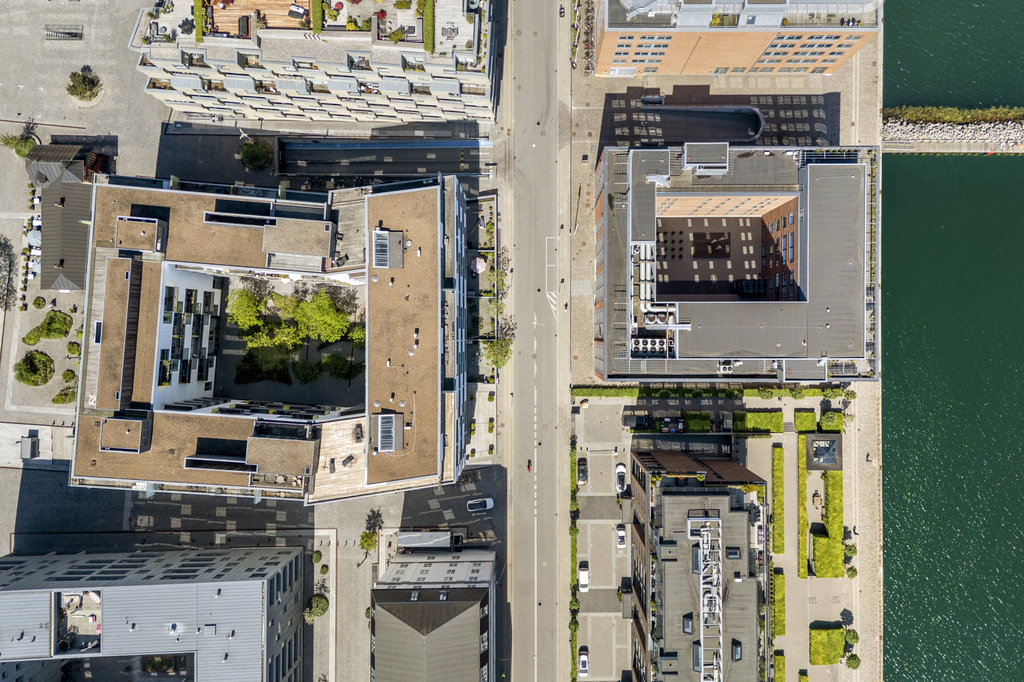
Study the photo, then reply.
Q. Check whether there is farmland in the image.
No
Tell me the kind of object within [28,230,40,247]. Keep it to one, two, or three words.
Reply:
umbrella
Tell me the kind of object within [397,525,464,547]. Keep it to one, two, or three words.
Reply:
truck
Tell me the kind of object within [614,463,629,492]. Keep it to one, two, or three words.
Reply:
car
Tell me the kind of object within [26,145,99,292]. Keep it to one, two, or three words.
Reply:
house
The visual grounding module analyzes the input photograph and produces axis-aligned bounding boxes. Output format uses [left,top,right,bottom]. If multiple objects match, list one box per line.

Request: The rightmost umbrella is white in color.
[471,257,486,273]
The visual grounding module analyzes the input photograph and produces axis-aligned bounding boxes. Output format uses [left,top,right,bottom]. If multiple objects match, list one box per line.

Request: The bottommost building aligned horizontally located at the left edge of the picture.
[0,547,303,682]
